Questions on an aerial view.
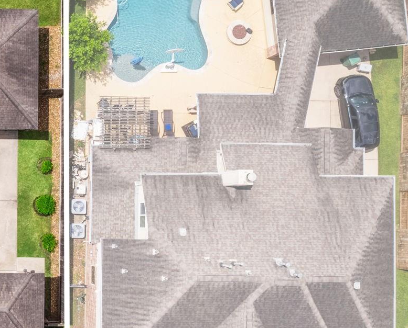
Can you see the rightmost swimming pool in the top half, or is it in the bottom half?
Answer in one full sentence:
You can find the rightmost swimming pool in the top half.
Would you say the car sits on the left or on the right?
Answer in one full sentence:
The car is on the right side of the image.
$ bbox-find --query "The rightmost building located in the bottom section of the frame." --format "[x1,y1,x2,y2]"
[84,93,398,328]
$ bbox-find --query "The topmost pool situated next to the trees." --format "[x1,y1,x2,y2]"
[106,0,213,87]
